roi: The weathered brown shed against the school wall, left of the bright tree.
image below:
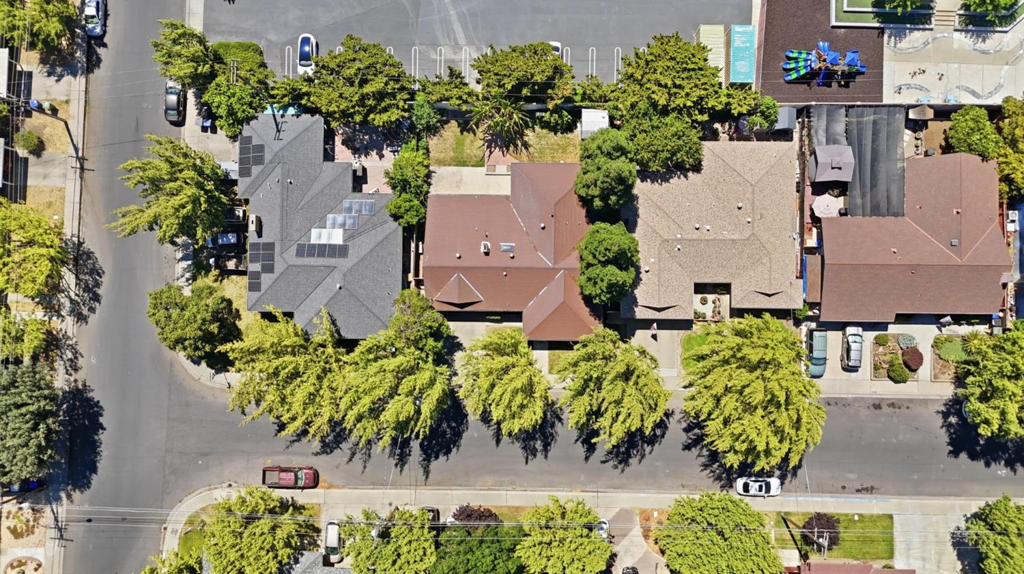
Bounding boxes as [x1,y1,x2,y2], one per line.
[905,106,933,122]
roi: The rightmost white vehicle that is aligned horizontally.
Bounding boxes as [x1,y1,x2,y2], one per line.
[734,475,780,498]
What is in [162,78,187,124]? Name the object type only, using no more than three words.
car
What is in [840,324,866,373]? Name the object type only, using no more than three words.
car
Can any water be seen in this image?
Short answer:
No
